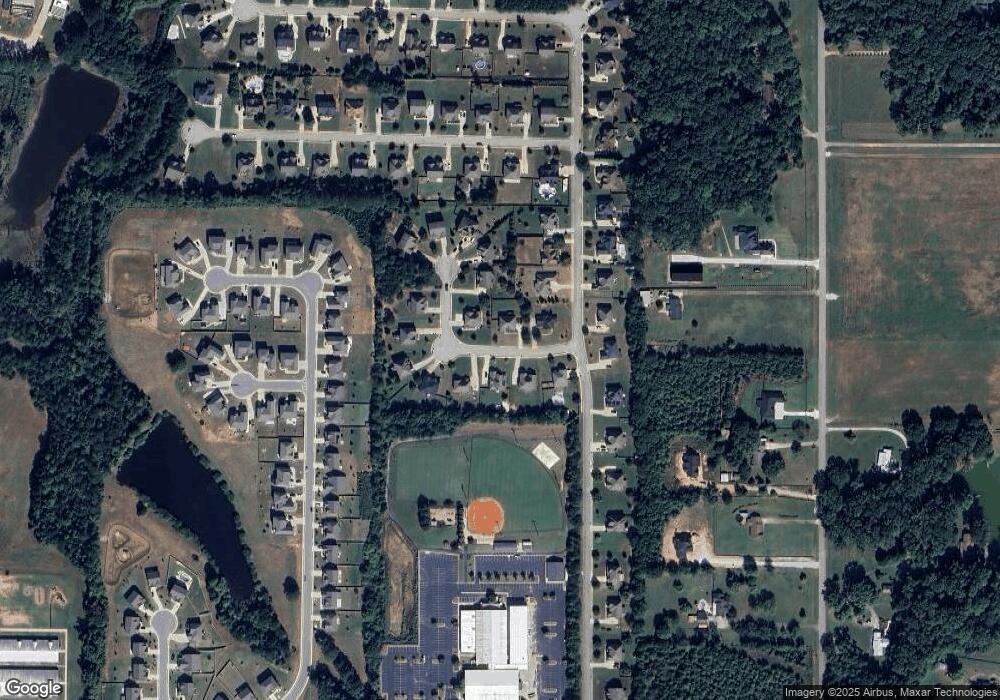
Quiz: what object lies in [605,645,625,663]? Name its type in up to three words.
house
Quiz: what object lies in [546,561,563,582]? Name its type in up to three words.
building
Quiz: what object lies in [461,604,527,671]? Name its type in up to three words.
building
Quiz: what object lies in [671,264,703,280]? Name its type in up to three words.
barn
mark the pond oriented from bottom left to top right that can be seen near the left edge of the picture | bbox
[8,65,119,228]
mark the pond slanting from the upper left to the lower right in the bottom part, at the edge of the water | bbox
[117,416,254,597]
